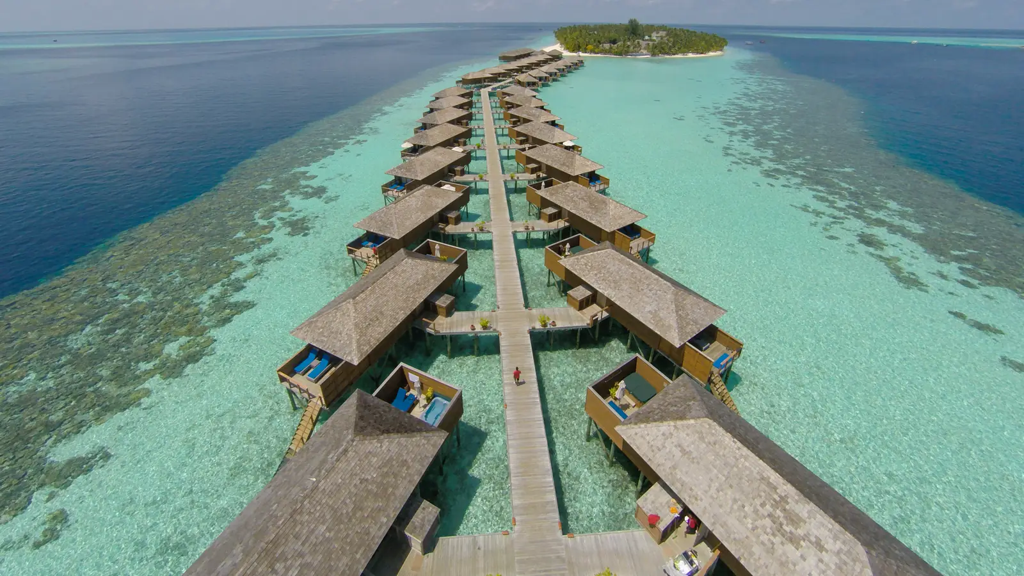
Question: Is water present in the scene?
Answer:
Yes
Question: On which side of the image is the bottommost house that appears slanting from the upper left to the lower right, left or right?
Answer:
right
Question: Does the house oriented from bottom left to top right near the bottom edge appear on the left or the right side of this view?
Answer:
left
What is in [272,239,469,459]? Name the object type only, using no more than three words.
house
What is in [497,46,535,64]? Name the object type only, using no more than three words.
building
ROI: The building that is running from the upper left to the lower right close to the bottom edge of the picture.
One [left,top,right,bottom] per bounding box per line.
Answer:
[584,352,955,576]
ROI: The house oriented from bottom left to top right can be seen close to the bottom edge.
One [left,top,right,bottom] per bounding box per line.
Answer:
[179,364,465,576]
